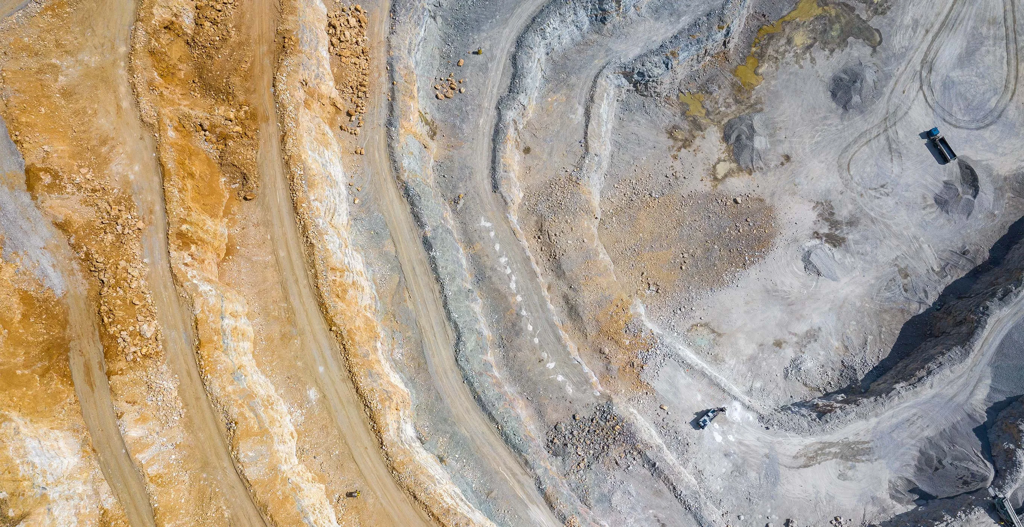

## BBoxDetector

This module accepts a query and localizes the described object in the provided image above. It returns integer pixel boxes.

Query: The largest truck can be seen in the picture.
[929,126,958,163]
